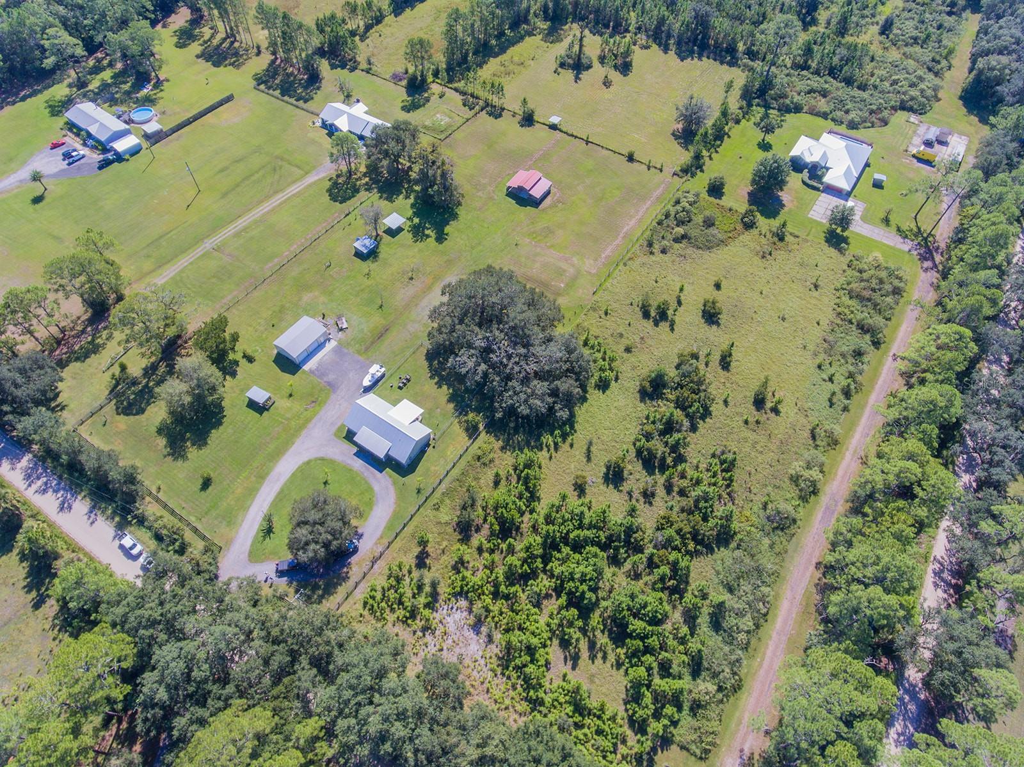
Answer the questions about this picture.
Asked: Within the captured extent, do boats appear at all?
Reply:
Yes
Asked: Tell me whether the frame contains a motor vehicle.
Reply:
Yes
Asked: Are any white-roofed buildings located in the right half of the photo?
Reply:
Yes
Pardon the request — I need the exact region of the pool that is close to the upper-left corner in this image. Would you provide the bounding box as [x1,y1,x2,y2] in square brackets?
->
[126,106,155,123]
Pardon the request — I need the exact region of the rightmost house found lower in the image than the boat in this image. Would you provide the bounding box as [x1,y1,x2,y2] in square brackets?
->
[341,393,433,468]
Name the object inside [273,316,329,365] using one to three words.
building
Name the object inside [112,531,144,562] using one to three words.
truck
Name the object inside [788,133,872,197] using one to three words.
house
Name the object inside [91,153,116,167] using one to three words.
vehicle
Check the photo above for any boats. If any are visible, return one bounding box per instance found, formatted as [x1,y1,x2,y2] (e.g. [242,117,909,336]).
[363,360,389,386]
